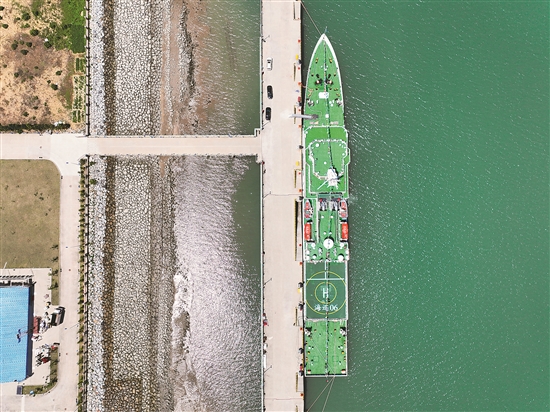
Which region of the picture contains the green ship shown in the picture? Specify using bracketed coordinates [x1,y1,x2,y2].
[302,28,351,382]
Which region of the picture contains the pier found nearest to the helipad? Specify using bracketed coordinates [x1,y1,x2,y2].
[262,0,303,412]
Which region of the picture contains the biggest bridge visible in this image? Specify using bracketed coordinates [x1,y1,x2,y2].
[86,128,262,163]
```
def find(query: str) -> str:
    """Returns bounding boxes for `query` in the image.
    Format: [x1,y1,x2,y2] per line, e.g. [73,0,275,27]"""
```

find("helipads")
[303,262,348,321]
